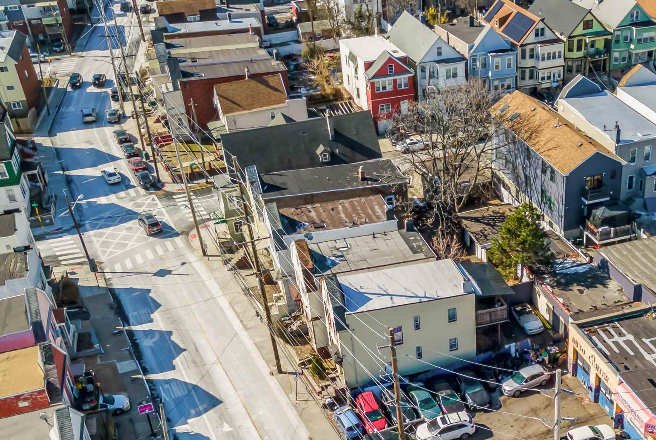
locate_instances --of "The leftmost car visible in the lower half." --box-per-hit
[56,303,104,329]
